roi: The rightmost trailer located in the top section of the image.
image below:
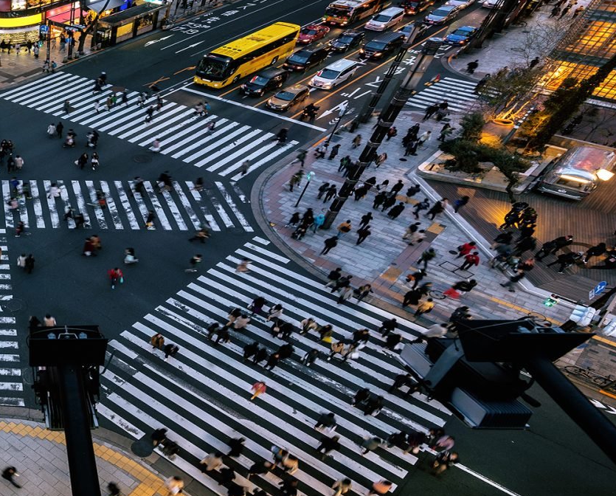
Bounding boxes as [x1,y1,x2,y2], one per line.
[534,146,615,204]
